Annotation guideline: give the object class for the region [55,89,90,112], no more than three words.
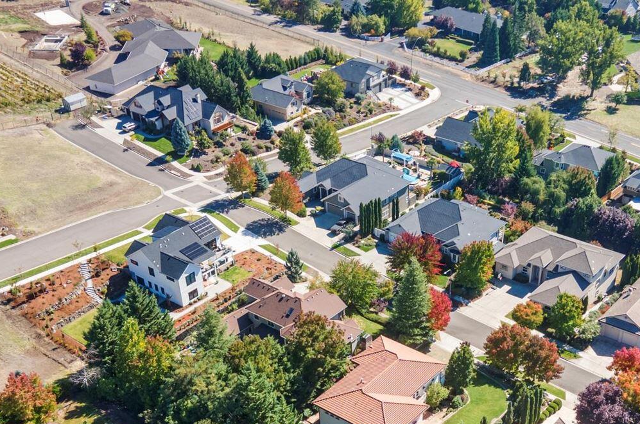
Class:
shed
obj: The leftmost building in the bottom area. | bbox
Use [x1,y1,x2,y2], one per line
[119,206,245,307]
